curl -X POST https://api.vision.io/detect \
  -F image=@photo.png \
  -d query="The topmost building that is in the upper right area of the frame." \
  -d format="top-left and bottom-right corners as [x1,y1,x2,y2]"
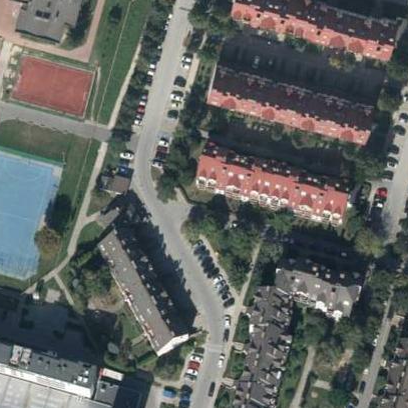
[232,0,397,64]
